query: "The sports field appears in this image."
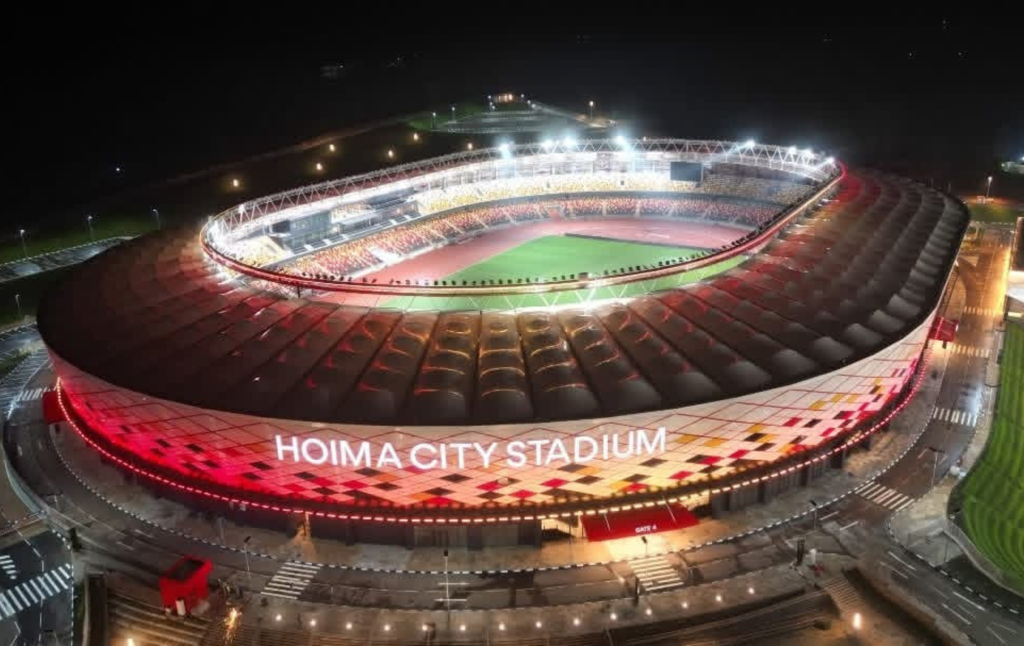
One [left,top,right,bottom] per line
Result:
[379,234,756,318]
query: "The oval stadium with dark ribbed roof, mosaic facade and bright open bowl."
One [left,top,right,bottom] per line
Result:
[28,136,970,551]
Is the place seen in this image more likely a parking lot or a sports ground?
sports ground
